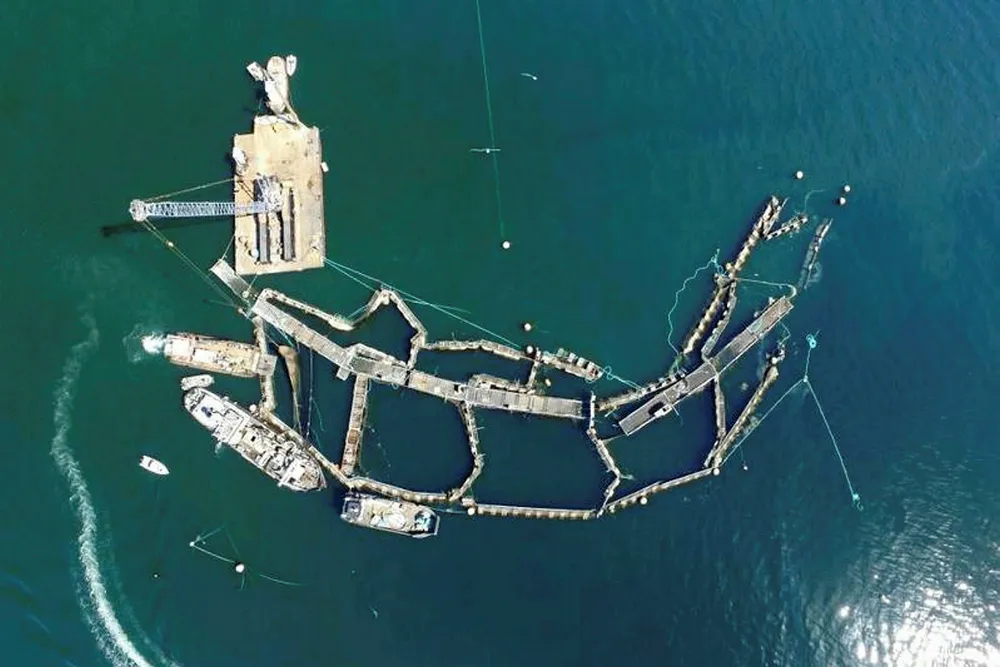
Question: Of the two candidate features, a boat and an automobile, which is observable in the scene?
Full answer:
I can see a boat in this picture.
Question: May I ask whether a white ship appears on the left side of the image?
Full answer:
Yes, there is a white ship on the left side of the image.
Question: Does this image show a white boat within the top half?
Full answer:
Yes, a white boat can be seen within the top half.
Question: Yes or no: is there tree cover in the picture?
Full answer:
No, no tree cover is visible.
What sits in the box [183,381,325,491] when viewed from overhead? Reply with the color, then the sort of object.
white ship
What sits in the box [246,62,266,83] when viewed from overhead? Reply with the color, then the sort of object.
white boat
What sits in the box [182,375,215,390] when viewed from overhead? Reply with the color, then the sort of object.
white boat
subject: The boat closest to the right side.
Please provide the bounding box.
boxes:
[341,493,439,538]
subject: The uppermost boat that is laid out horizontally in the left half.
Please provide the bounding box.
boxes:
[163,333,263,377]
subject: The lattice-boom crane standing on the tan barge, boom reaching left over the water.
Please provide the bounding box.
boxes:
[130,178,291,318]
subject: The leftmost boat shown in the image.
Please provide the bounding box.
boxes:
[139,456,172,475]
